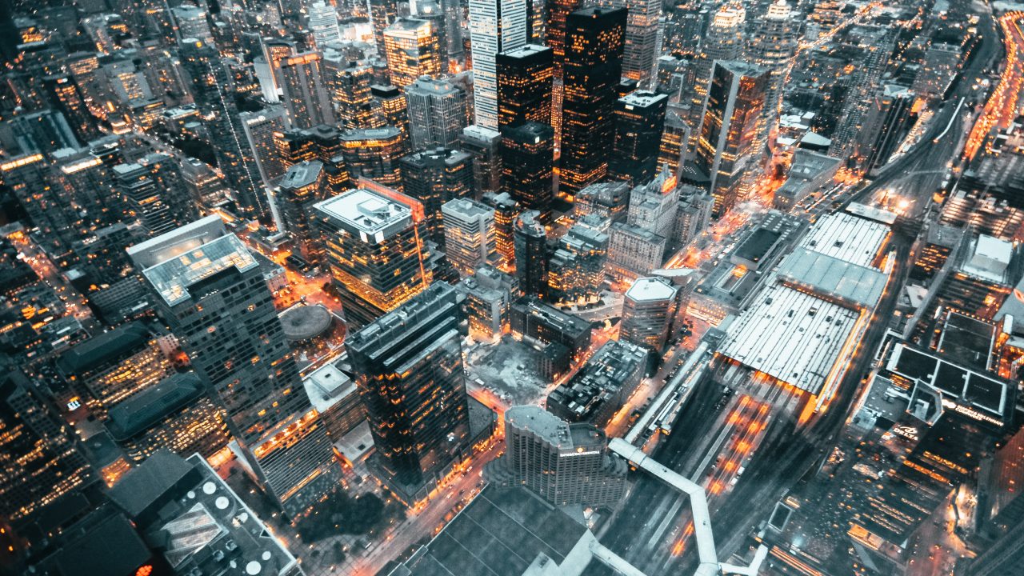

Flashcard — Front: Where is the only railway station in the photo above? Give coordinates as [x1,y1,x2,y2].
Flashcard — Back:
[690,202,807,332]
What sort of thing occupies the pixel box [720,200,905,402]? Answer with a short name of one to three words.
shed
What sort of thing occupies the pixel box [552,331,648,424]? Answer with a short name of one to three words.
building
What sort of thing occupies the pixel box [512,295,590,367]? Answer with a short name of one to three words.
building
